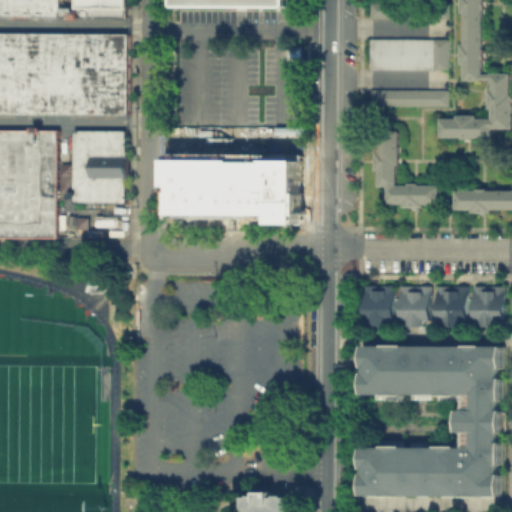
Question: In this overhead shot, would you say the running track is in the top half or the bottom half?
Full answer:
It is in the bottom half that the running track appears.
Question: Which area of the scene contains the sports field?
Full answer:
The sports field is located in the bottom left region of the scene.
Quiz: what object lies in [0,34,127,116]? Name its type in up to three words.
building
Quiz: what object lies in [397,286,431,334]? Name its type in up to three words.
house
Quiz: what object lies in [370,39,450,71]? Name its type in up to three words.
building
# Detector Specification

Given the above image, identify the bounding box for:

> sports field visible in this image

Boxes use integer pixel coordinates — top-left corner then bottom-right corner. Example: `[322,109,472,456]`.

[0,276,111,512]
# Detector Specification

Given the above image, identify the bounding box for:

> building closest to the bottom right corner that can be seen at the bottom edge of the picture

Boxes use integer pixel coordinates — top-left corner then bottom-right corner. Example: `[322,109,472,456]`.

[354,344,496,498]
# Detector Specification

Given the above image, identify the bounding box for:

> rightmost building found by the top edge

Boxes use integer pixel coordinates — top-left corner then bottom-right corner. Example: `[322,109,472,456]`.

[438,0,510,139]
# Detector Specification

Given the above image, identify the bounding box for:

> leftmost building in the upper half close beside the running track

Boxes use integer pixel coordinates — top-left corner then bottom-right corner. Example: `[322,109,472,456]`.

[0,128,58,239]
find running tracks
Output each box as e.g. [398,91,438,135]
[0,268,120,512]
